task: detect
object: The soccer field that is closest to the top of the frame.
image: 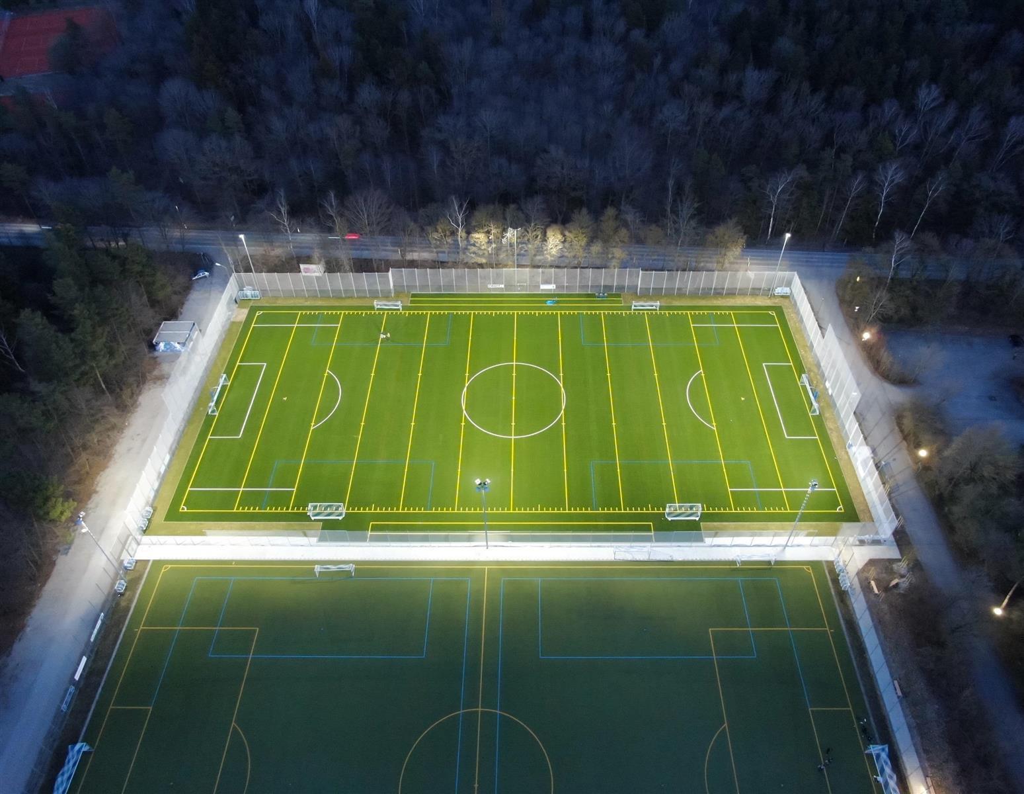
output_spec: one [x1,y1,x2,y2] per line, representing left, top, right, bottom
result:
[164,292,862,537]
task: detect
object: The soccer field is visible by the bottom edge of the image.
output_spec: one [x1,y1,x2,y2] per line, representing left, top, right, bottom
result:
[66,559,886,794]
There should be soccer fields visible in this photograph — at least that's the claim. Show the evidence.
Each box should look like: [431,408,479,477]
[164,292,862,537]
[66,559,886,794]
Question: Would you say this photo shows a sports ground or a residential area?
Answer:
sports ground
